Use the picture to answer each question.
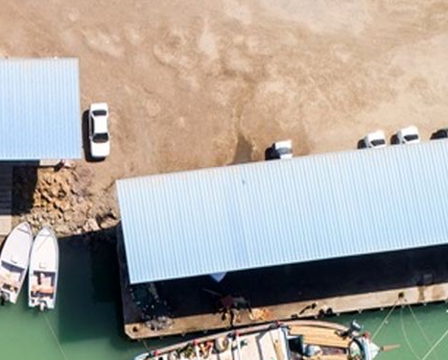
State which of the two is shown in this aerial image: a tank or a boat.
boat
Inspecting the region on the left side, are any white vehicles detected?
Yes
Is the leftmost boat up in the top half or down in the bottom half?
bottom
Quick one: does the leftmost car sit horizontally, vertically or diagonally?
vertically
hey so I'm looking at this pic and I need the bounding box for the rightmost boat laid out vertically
[29,226,59,312]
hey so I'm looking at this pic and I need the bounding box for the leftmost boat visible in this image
[0,222,33,304]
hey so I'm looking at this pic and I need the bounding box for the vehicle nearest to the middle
[270,135,295,160]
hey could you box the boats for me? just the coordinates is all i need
[29,226,59,312]
[0,222,33,304]
[129,320,407,360]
